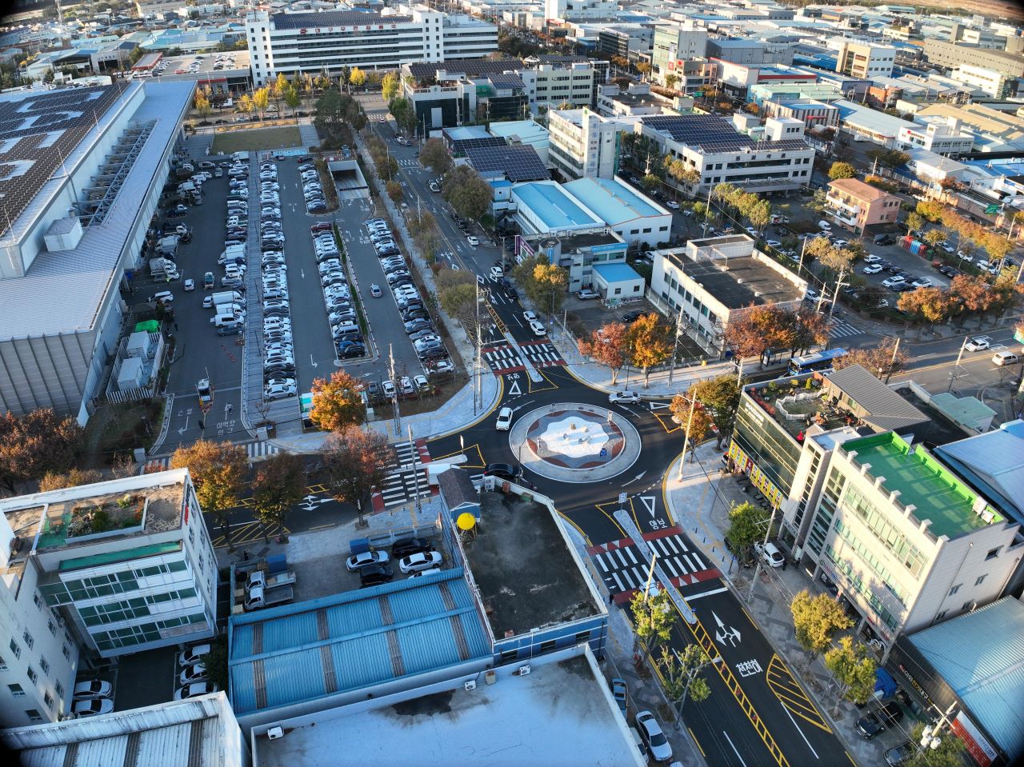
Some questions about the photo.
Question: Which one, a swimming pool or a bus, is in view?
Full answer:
The one in the frame is a bus.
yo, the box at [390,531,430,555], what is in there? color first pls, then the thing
black car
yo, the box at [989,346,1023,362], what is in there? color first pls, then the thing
white vehicle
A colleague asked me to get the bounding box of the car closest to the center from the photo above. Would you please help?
[496,403,514,427]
